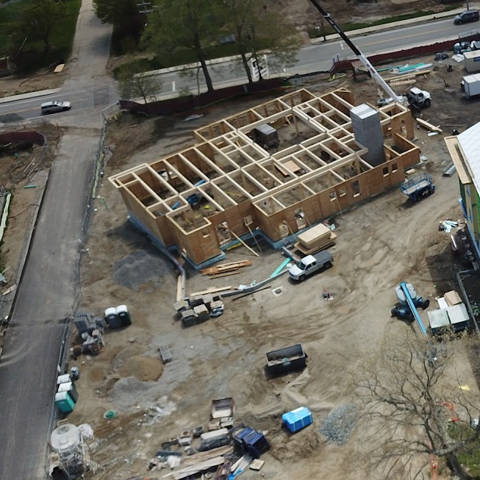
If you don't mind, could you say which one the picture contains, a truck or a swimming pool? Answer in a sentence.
Visible in the photo is a truck.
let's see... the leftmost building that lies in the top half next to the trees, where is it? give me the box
[107,87,421,268]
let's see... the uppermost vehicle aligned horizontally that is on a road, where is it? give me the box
[452,9,480,24]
